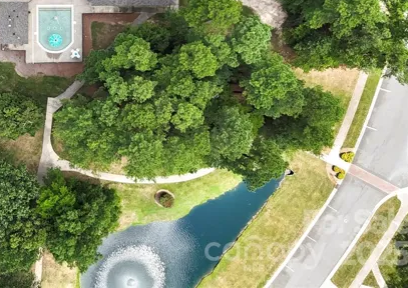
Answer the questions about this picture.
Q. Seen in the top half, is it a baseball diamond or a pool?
pool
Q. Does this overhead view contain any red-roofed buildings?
No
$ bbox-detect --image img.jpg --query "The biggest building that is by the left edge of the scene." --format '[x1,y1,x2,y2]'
[1,2,28,43]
